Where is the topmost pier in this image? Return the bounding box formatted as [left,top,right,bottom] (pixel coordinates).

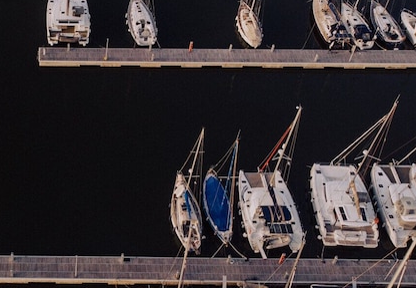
[40,47,416,67]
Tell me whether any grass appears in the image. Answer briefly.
No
